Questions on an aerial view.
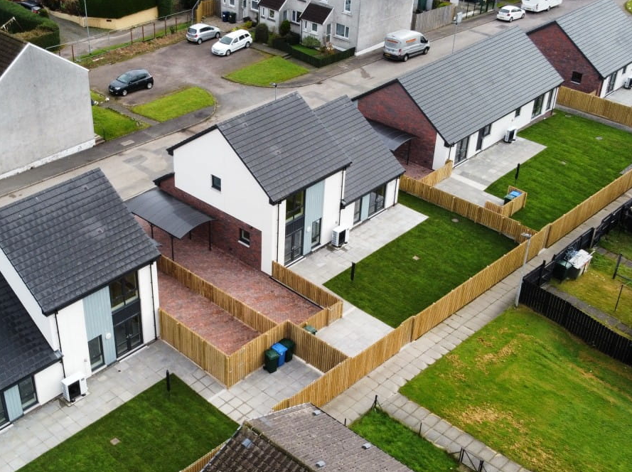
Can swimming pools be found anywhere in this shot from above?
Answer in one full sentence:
No, no swimming pool is visible in the view.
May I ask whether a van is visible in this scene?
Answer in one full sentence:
Yes, the image includes a van.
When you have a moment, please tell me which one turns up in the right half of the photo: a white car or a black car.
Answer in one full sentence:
It is a white car that can be seen in the right half of the photo.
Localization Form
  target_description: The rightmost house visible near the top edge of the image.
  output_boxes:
[523,0,632,100]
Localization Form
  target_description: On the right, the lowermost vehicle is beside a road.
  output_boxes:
[383,28,431,62]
